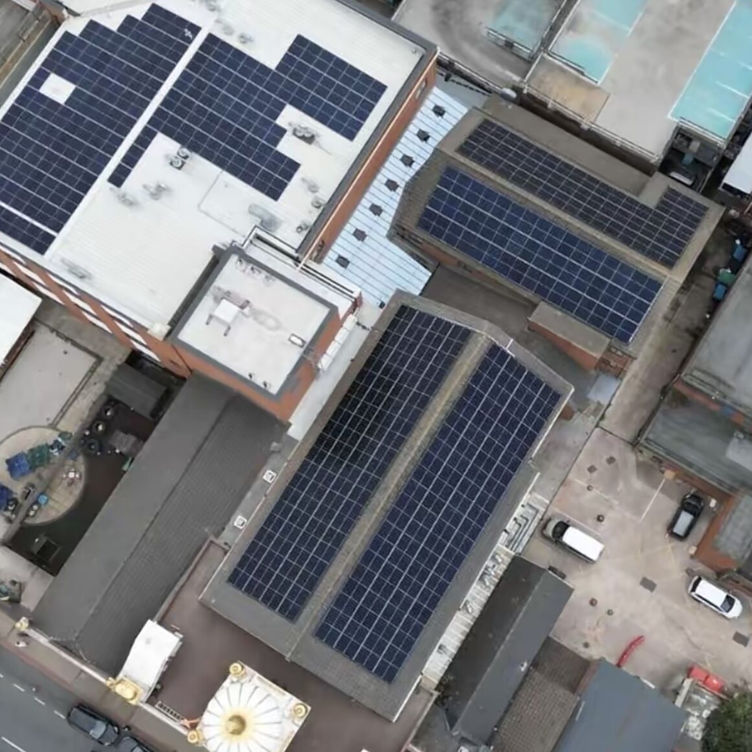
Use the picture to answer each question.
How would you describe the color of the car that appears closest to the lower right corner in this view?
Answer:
white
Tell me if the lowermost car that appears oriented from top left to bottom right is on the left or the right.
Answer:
left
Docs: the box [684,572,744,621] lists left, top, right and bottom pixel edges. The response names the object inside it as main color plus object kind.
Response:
white car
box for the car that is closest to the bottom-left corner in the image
[62,701,124,748]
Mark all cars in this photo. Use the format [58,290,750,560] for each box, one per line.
[541,518,607,563]
[114,735,157,752]
[665,491,707,544]
[684,572,744,621]
[62,701,124,748]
